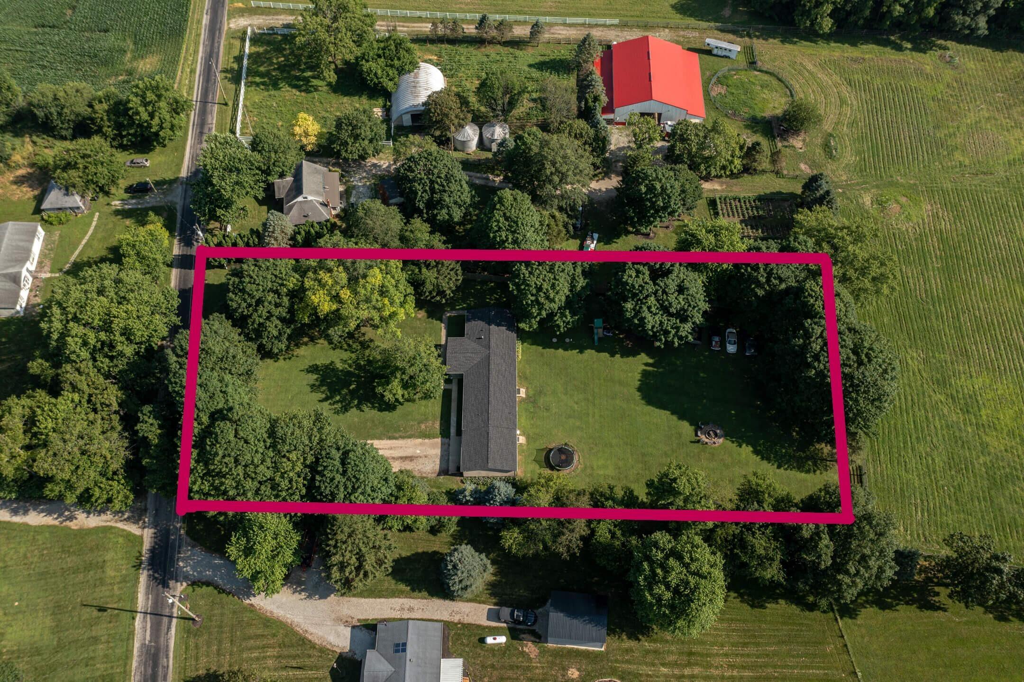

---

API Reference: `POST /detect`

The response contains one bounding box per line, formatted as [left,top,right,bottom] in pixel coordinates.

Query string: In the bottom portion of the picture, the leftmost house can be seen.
[363,620,465,682]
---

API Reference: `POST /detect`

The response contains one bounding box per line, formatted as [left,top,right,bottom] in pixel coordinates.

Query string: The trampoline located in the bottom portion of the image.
[549,439,578,473]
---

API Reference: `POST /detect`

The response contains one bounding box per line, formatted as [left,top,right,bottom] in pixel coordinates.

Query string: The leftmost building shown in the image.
[0,218,49,331]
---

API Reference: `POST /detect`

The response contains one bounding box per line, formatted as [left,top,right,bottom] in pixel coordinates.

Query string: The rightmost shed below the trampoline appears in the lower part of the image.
[547,591,607,651]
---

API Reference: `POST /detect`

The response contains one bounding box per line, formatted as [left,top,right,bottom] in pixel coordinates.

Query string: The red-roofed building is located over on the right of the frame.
[594,35,706,130]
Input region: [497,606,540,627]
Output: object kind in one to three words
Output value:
truck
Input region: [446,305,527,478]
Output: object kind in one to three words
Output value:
house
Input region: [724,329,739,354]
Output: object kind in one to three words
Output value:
car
